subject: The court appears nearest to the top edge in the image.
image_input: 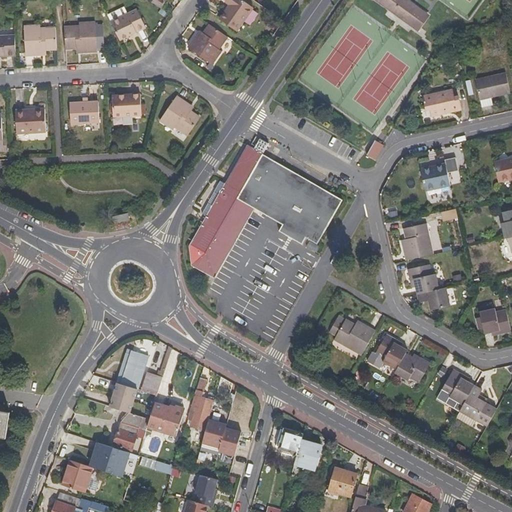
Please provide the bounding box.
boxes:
[438,0,488,20]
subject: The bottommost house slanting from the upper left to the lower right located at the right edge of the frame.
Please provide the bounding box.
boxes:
[442,370,498,427]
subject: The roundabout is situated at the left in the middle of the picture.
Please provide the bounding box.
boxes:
[109,260,156,306]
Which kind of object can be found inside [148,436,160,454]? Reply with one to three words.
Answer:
swimming pool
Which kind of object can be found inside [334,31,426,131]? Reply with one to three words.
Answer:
tennis court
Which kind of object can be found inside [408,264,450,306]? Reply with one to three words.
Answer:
house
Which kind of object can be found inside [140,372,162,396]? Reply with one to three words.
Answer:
building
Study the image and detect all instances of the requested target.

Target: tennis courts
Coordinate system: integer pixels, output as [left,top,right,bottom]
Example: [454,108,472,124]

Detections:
[298,4,388,105]
[334,31,426,131]
[438,0,488,20]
